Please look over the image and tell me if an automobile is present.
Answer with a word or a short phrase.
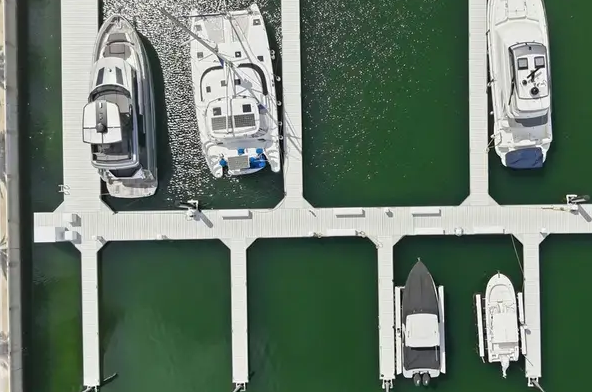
No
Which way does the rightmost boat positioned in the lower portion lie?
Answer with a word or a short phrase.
up and down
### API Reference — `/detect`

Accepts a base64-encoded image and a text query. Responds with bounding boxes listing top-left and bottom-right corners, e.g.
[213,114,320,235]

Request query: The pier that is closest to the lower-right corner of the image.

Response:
[513,233,550,386]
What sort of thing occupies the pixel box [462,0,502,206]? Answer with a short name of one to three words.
pier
